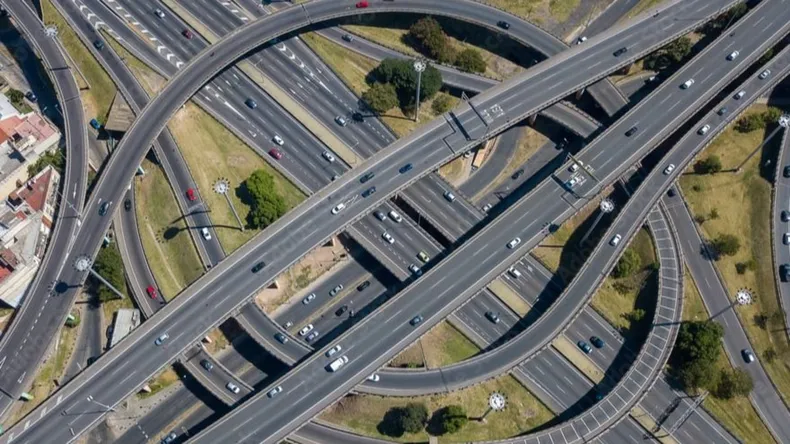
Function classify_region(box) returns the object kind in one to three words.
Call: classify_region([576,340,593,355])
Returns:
car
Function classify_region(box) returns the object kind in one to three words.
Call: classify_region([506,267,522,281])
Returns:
vehicle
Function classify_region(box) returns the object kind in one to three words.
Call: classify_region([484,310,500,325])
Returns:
car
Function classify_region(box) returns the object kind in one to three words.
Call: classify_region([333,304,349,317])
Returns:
vehicle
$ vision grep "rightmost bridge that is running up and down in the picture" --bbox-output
[770,119,790,342]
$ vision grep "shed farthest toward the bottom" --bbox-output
[111,308,145,345]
